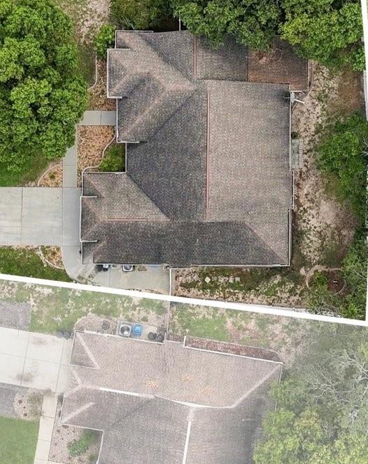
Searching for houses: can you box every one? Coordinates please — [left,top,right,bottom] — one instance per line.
[79,29,310,270]
[61,330,284,464]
